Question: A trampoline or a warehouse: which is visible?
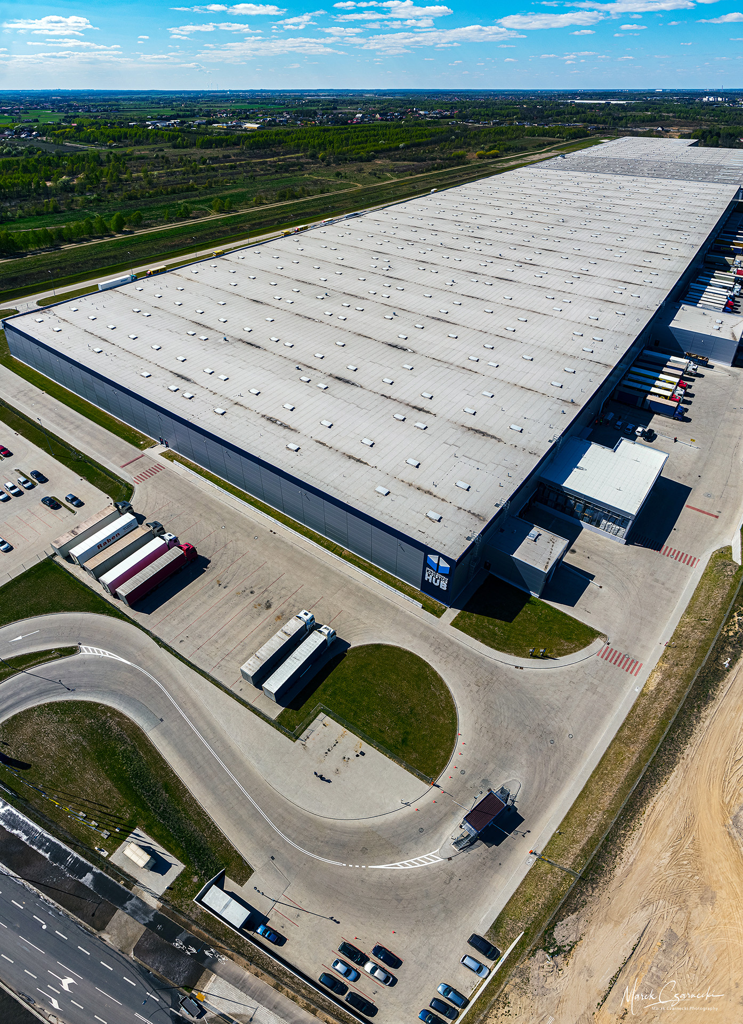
warehouse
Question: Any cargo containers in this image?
Yes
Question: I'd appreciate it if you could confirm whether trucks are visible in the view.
Yes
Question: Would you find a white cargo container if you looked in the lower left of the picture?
Yes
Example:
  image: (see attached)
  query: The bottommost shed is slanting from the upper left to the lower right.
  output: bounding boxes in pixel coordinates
[204,886,253,932]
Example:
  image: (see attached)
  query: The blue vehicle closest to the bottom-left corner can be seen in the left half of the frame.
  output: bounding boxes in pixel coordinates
[258,922,283,946]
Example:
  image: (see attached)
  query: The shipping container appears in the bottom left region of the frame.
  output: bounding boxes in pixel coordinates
[123,840,155,873]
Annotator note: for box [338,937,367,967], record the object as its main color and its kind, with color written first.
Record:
black car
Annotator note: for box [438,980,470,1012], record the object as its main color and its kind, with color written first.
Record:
blue car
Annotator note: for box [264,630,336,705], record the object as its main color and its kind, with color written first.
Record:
white truck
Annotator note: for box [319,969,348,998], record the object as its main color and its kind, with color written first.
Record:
black car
